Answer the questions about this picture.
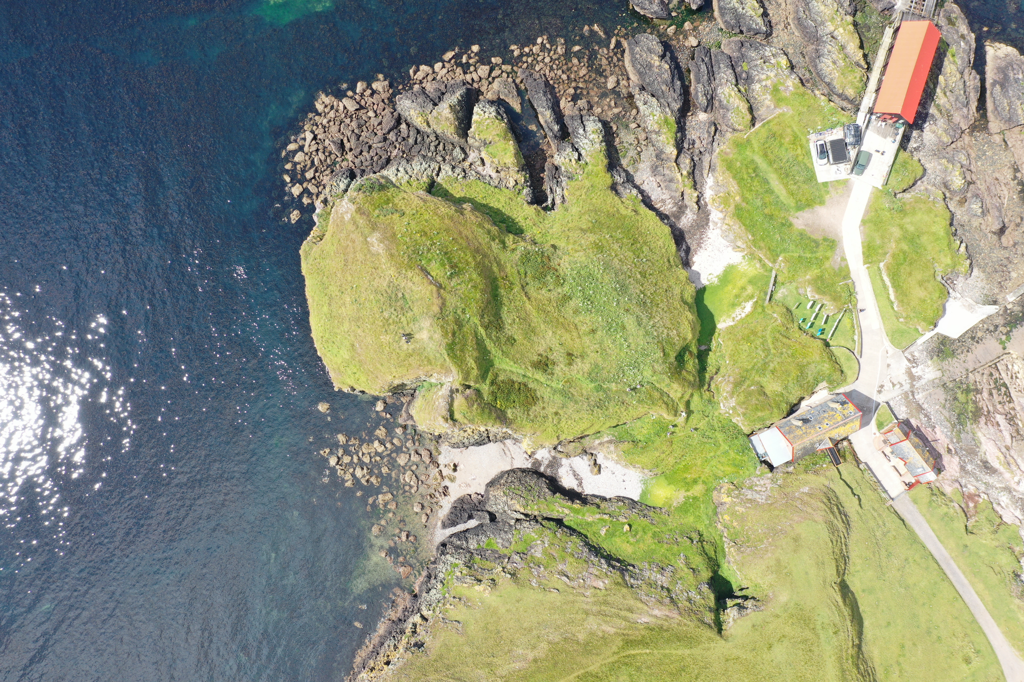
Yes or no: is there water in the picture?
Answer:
Yes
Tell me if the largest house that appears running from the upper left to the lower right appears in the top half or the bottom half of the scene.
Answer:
bottom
